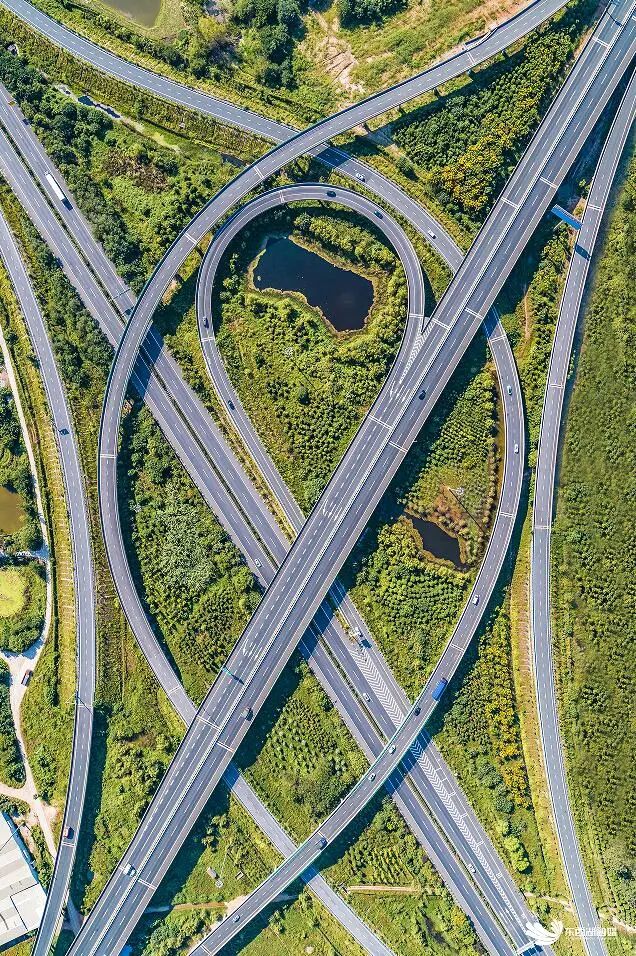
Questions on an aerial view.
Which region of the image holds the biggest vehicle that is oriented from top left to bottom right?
top left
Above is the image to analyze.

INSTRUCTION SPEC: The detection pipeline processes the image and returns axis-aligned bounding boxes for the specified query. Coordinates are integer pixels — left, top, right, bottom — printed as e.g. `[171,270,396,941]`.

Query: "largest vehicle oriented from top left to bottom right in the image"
[43,170,64,200]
